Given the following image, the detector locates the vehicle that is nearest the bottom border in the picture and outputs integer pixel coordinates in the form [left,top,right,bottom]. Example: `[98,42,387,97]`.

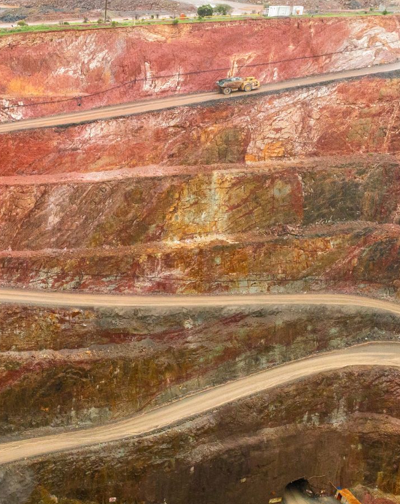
[219,74,265,93]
